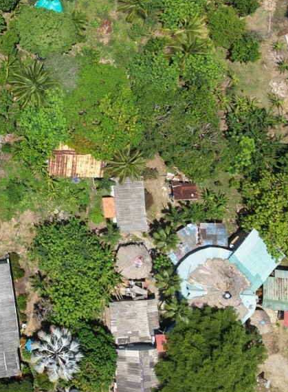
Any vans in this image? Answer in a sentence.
No, the frame has no van in it.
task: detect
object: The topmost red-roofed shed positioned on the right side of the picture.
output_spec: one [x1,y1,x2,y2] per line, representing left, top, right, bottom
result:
[168,180,198,200]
